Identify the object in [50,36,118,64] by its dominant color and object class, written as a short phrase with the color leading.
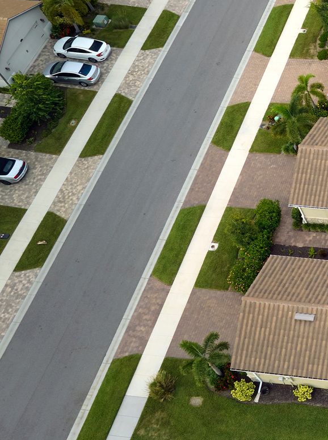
white car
